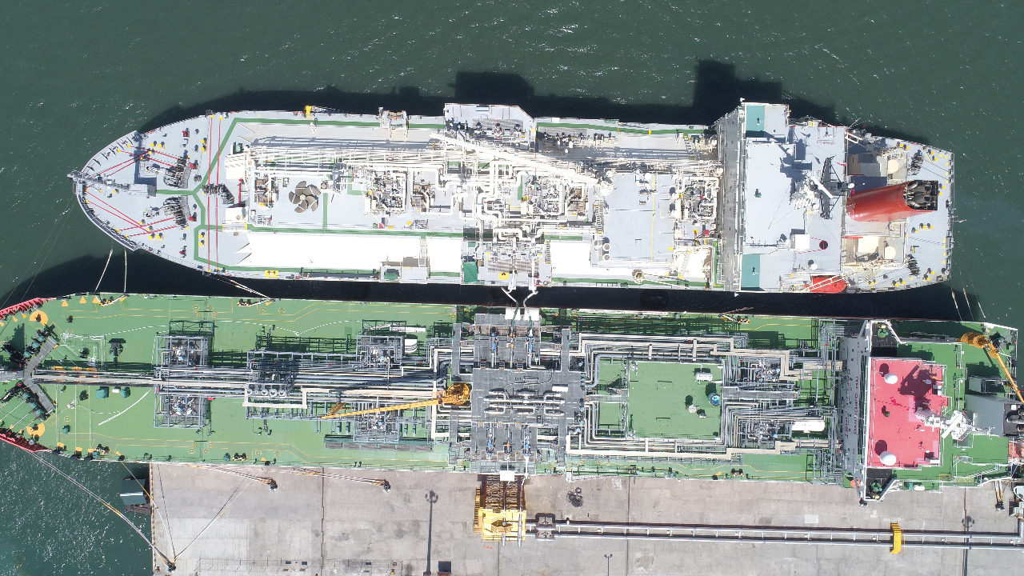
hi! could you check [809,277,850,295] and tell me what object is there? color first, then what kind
red boat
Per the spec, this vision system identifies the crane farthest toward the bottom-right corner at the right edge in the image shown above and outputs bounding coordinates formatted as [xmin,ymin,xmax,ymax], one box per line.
[940,331,1024,401]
